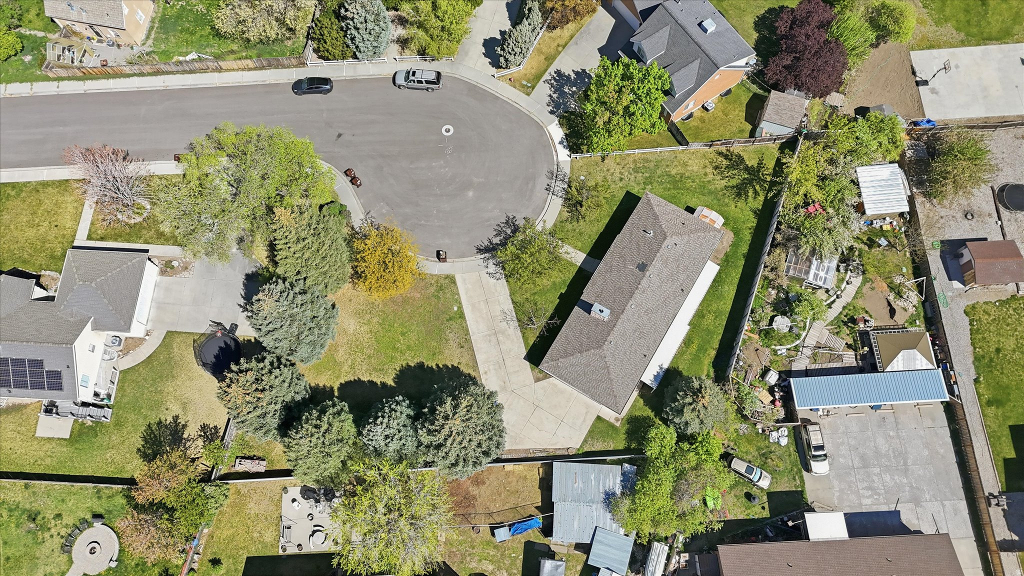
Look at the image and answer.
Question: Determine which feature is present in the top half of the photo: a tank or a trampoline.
trampoline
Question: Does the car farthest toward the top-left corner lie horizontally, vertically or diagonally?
horizontally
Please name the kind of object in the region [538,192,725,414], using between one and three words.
house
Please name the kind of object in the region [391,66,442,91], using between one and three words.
car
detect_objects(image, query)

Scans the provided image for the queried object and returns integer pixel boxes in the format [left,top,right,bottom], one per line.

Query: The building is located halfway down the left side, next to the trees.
[0,246,157,400]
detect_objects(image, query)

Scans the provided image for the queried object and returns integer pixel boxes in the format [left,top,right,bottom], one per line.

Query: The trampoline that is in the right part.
[999,176,1024,219]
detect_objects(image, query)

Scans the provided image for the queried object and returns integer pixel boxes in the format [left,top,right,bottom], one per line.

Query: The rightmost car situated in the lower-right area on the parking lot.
[800,423,831,476]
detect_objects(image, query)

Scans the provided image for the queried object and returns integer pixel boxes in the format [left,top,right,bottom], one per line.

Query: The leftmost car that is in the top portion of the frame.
[289,73,332,94]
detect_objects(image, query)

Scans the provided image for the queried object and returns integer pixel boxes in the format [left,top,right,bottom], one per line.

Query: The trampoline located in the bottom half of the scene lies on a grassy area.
[191,327,248,380]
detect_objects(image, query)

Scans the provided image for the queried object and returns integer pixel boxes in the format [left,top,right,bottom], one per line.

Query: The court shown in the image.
[910,43,1024,120]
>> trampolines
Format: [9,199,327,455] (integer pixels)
[999,176,1024,219]
[191,327,248,380]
